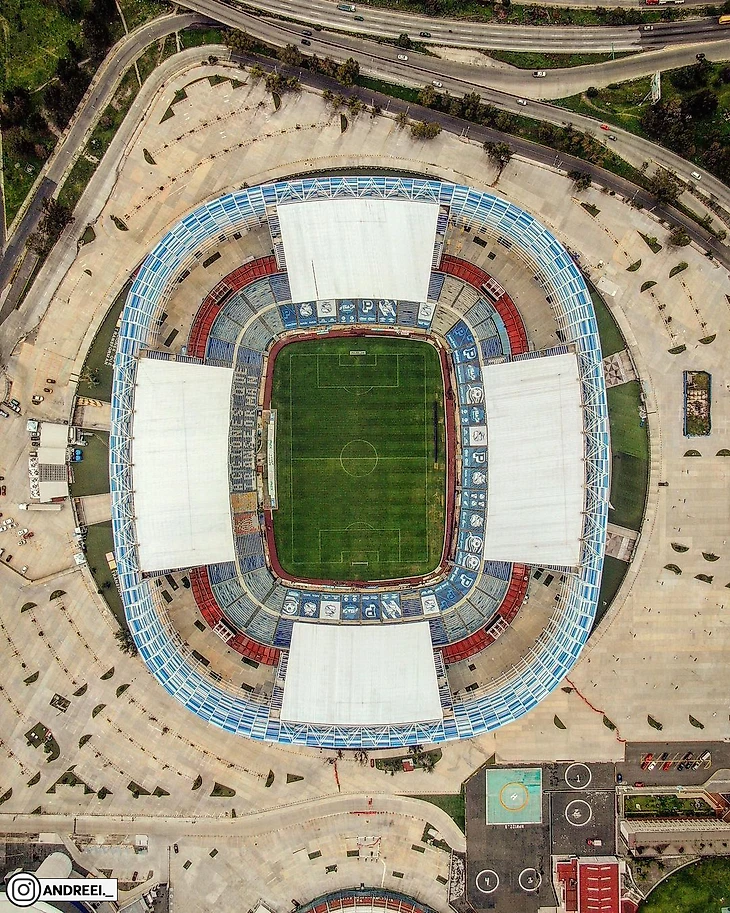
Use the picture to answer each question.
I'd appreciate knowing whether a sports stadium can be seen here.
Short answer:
Yes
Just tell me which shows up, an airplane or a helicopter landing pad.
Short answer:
helicopter landing pad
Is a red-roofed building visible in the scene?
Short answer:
Yes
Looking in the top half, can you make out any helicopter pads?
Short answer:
No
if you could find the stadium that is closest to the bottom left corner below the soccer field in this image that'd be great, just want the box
[292,878,430,913]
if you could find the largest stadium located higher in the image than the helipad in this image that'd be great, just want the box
[109,177,610,749]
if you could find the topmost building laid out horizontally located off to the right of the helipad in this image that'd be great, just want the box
[620,812,730,858]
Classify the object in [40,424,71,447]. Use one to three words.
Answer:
shed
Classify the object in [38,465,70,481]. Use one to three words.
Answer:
shed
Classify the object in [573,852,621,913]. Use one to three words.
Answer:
building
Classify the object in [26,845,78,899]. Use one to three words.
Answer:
building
